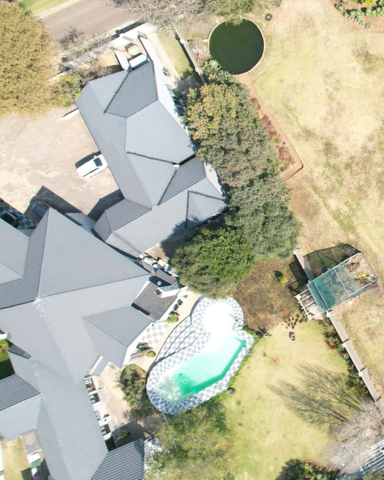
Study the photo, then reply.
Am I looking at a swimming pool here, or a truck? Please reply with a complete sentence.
It is a swimming pool that can be seen here.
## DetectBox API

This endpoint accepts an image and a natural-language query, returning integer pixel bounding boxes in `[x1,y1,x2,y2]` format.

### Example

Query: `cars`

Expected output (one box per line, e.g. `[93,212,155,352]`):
[77,155,105,177]
[2,209,30,229]
[28,203,47,218]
